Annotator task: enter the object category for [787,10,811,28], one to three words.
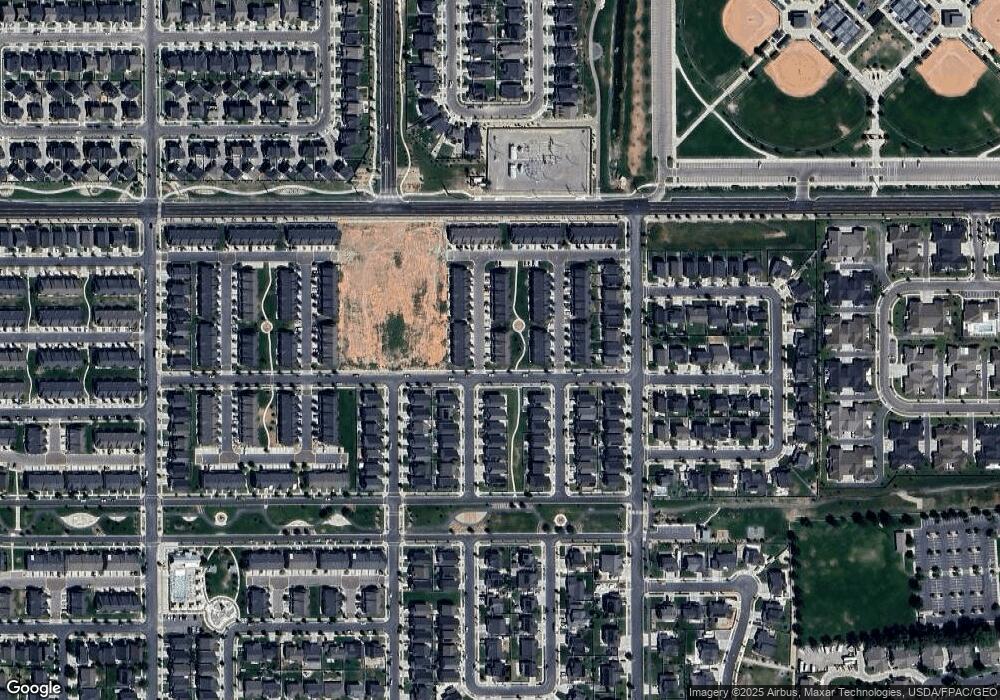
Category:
building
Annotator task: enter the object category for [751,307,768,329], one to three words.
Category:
house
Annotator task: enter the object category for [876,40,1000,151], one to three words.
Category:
baseball field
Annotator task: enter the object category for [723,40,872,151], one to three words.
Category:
baseball field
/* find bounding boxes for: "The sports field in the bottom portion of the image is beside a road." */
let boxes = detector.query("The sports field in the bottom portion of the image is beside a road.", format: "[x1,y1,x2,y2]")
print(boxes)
[796,522,917,640]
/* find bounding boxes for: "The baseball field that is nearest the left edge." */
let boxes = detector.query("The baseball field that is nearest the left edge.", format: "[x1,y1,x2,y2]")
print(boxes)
[679,0,780,92]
